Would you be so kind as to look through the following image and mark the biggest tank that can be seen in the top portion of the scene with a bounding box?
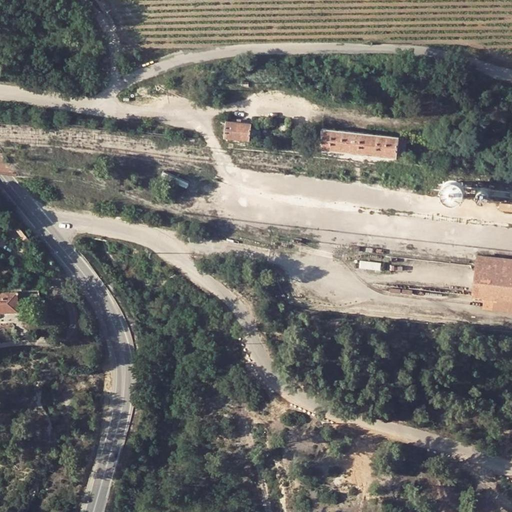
[432,180,464,208]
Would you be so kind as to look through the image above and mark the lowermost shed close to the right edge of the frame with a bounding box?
[472,252,512,310]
